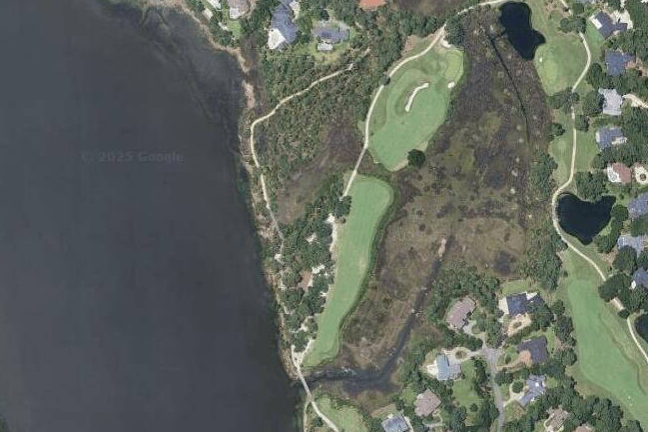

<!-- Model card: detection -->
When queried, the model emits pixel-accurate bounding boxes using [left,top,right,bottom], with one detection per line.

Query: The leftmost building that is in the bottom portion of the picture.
[383,413,408,432]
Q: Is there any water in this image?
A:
Yes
